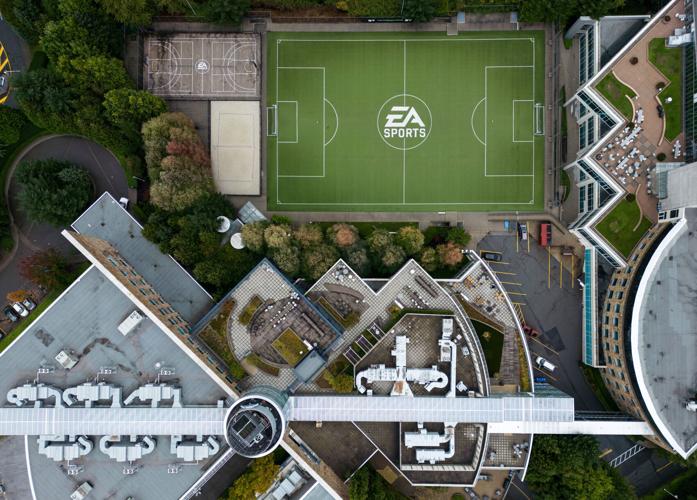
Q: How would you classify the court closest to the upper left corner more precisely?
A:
basketball court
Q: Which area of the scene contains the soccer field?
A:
top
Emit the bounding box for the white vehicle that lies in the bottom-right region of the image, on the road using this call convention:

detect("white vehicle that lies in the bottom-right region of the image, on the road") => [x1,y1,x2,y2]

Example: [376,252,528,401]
[535,355,557,372]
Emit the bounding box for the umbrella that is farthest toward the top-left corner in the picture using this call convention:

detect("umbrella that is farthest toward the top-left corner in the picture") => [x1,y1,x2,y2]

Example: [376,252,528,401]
[216,216,231,232]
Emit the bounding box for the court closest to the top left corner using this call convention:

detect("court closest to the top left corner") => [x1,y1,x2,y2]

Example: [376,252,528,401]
[144,32,261,95]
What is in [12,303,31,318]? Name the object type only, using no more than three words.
car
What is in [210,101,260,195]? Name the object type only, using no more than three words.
sports court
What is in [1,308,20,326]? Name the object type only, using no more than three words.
car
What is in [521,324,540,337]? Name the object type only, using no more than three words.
vehicle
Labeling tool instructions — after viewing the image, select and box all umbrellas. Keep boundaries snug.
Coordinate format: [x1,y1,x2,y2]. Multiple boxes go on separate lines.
[230,233,246,249]
[216,216,231,232]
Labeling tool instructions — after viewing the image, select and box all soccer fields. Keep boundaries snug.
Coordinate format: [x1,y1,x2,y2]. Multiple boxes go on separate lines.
[267,30,545,212]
